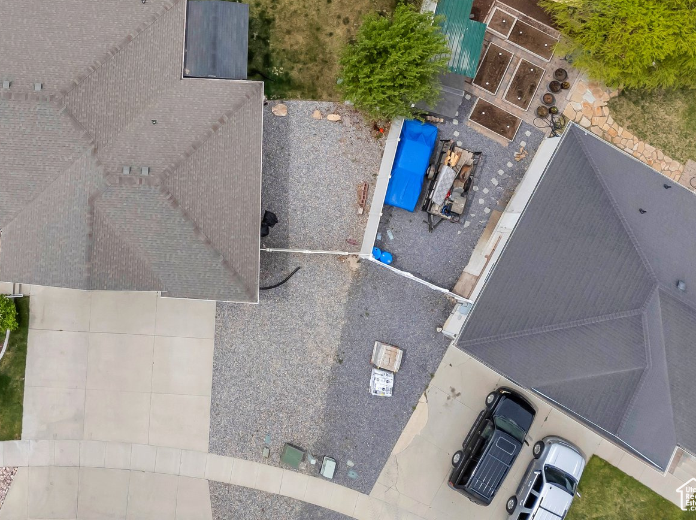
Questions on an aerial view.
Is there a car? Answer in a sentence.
Yes, this view includes a car.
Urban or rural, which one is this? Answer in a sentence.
It looks urban.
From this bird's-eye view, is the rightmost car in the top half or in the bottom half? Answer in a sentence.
You can find the rightmost car in the bottom half.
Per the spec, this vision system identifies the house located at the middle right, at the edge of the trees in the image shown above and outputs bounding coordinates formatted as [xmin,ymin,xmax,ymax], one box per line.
[443,117,696,471]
